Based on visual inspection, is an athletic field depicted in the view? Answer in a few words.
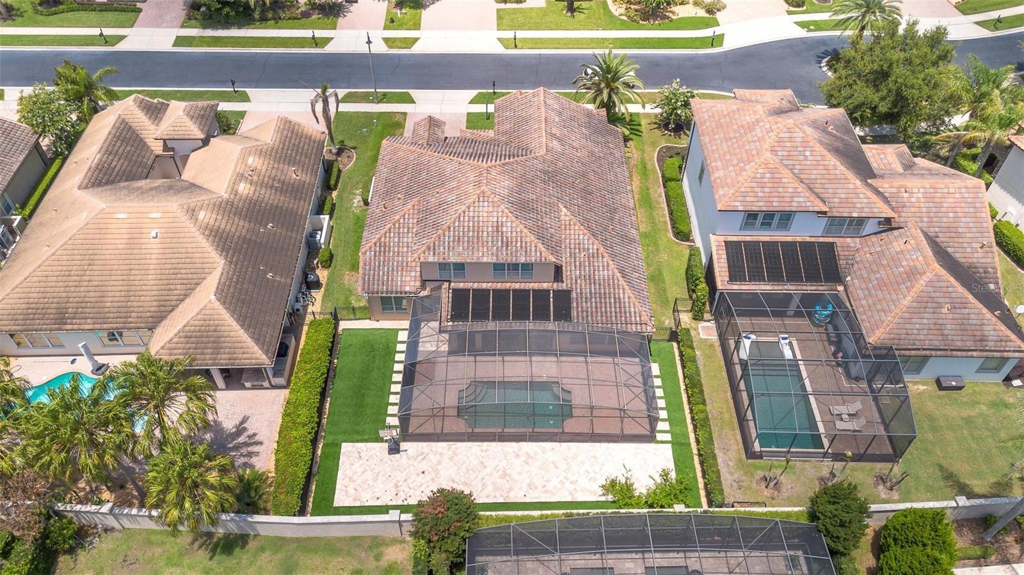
No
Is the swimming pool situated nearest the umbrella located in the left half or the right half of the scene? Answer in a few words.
left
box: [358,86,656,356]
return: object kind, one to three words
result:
house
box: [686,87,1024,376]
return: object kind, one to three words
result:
house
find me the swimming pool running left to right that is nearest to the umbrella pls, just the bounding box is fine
[8,367,155,439]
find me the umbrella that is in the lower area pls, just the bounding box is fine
[82,347,113,377]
